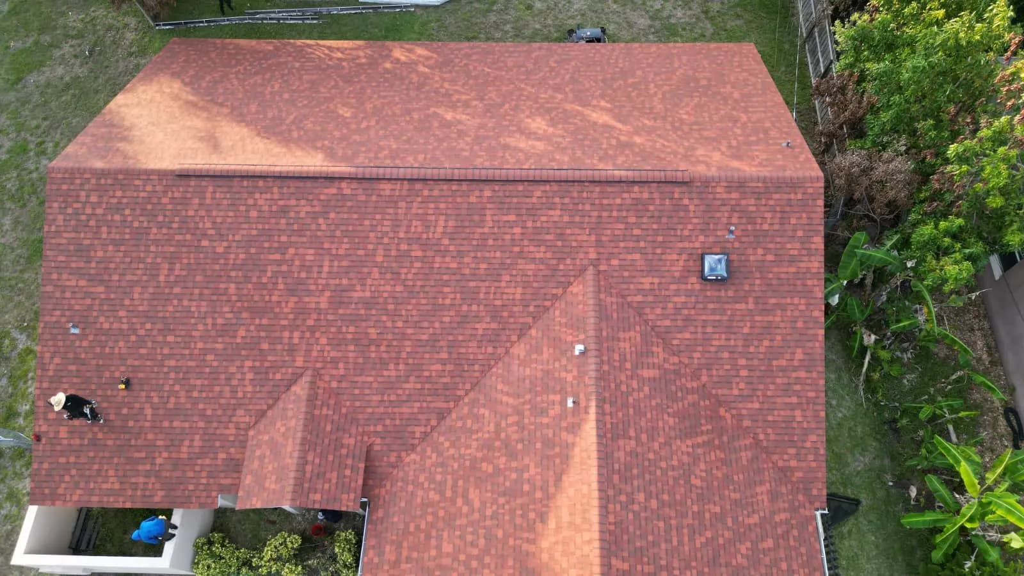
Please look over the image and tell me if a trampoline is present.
No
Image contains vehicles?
No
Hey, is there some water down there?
No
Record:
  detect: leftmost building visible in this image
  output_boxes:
[29,39,831,576]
